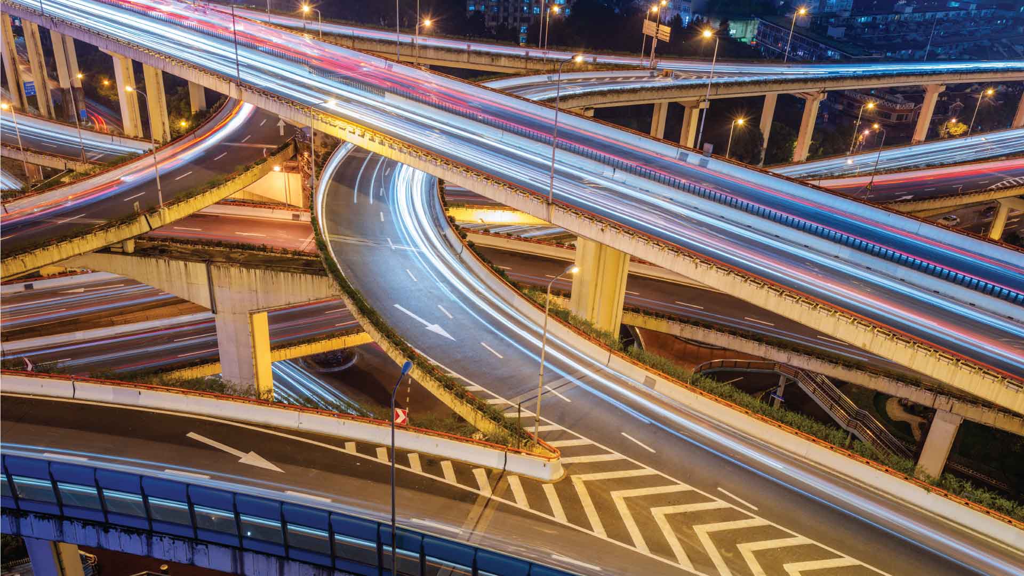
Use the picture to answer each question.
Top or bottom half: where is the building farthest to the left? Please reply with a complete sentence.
Seen from above, the building farthest to the left lies in the top half of the view.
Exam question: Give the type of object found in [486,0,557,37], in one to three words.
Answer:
building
